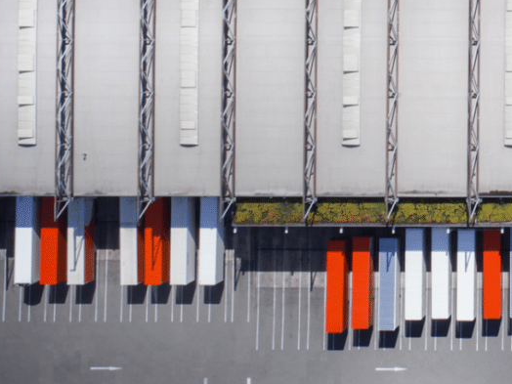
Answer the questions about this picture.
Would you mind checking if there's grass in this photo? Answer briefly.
No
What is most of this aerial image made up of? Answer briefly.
buildings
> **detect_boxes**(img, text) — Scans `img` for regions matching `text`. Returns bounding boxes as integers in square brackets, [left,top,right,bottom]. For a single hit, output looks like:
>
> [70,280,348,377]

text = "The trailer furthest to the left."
[15,196,41,287]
